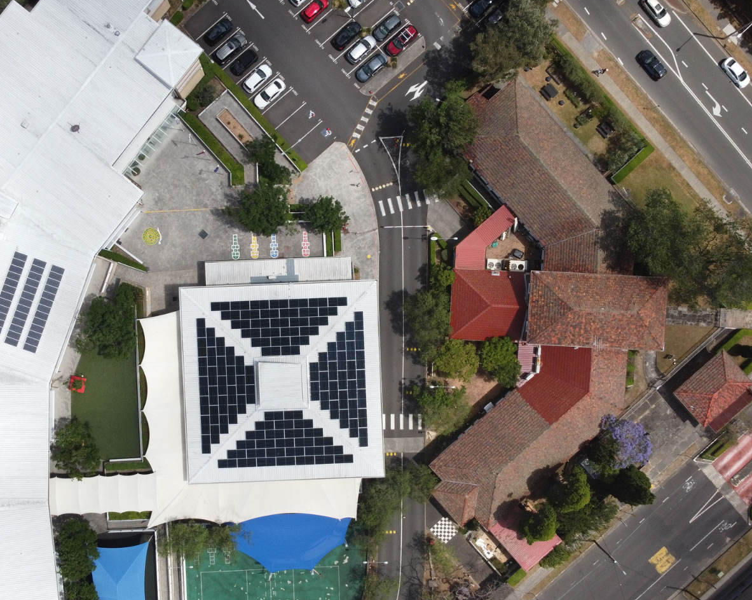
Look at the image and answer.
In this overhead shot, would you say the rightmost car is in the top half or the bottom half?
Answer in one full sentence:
Seen from above, the rightmost car lies in the top half of the view.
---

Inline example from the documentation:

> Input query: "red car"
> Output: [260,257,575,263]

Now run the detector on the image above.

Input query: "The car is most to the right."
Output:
[716,55,750,92]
